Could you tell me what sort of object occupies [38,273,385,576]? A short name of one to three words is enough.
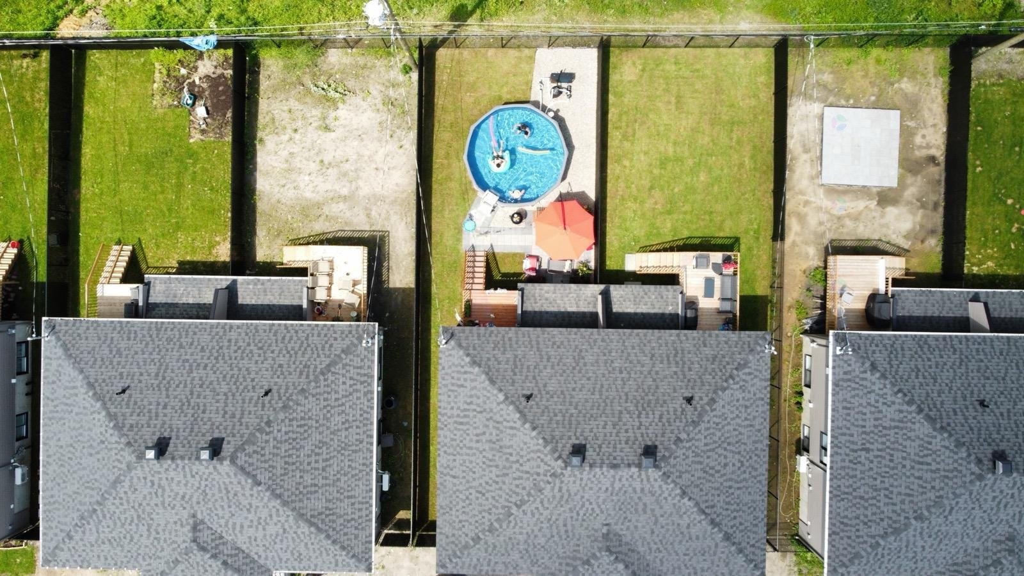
house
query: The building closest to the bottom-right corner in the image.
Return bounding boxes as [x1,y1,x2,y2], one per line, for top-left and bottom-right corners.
[801,284,1024,576]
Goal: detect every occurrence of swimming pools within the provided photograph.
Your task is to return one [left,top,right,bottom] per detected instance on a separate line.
[464,103,569,208]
